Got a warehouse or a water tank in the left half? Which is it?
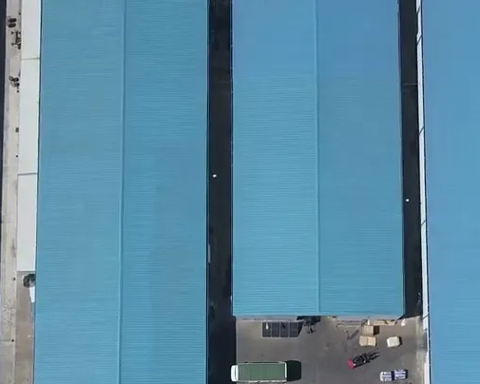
warehouse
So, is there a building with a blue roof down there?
Yes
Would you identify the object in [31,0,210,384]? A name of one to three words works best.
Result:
warehouse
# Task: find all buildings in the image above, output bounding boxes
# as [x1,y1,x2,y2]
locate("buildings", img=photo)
[31,0,210,384]
[416,0,480,384]
[230,0,406,320]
